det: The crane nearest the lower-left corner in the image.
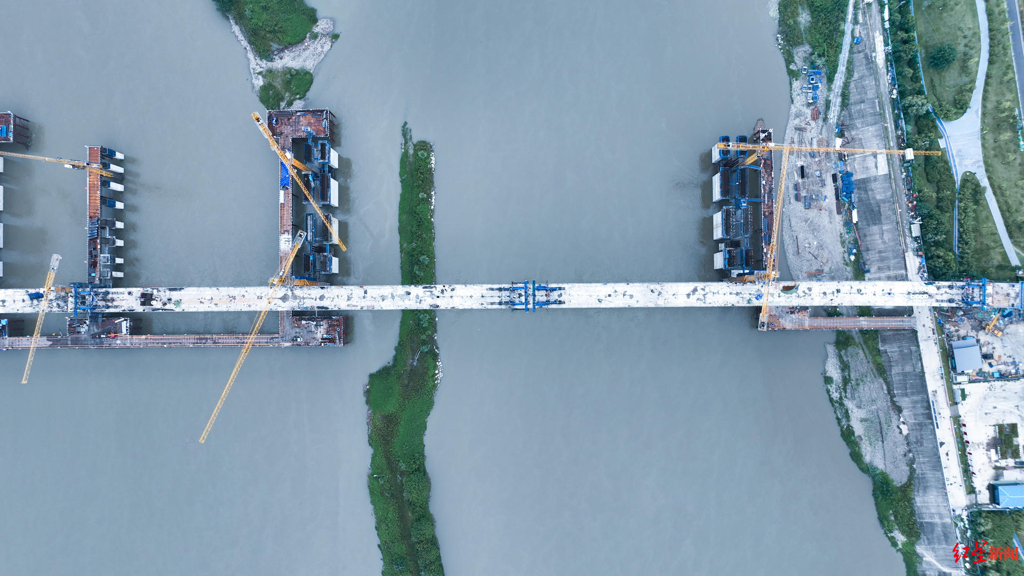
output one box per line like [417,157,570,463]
[21,254,134,384]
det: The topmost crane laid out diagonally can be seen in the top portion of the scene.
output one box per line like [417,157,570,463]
[248,111,347,251]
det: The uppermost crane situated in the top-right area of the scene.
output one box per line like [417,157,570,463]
[718,139,943,171]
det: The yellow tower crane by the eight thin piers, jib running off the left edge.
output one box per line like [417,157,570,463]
[0,152,128,179]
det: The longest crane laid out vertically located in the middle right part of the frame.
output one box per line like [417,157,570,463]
[723,152,788,330]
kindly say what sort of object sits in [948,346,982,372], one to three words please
building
